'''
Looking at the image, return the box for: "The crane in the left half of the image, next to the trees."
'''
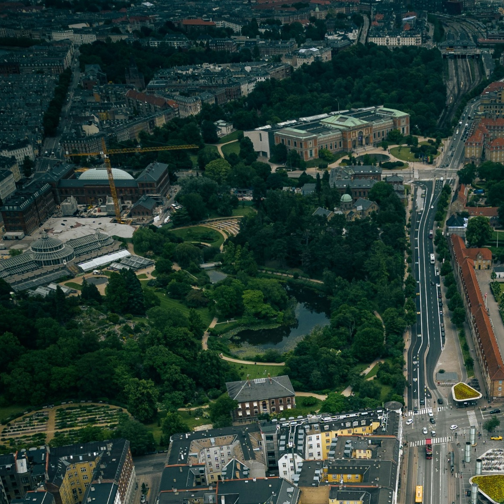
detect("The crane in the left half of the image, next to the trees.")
[70,144,202,224]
